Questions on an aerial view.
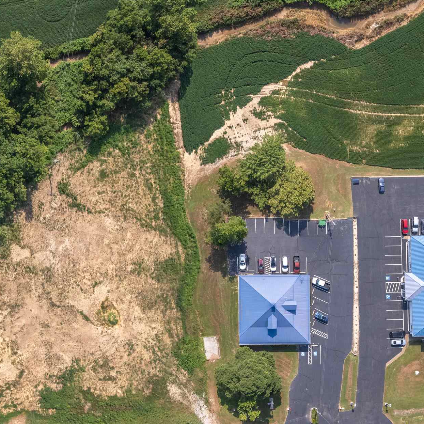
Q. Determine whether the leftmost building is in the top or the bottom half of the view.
bottom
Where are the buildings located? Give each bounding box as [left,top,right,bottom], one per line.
[401,235,424,341]
[238,275,311,344]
